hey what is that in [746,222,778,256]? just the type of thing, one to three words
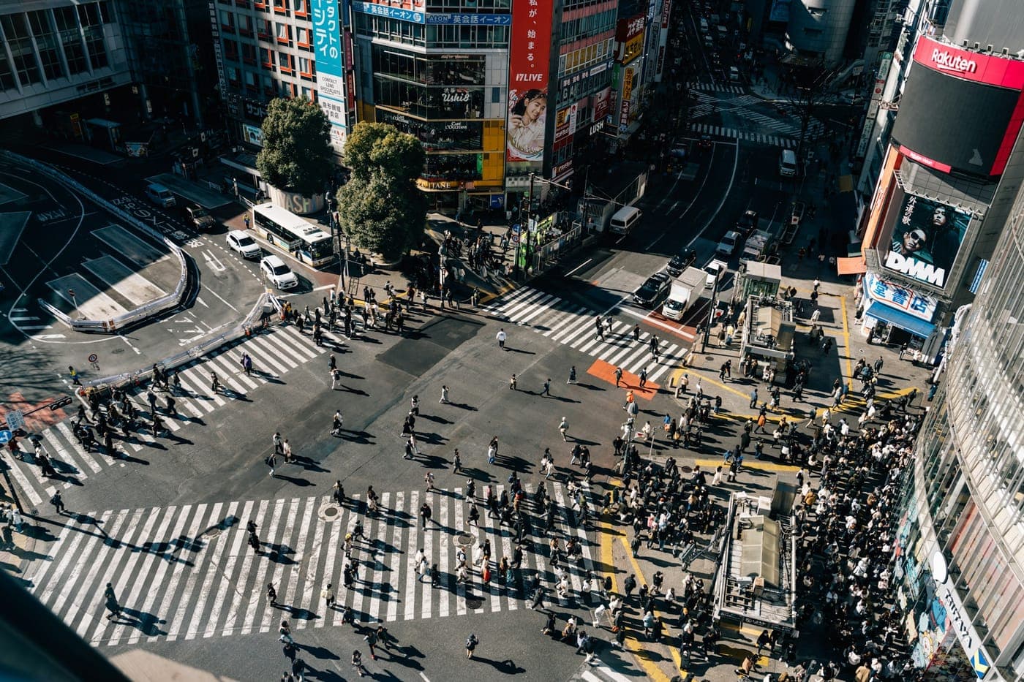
truck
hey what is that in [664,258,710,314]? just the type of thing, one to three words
truck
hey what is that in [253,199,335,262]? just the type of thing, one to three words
bus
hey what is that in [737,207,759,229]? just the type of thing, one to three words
car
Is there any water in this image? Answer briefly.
No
